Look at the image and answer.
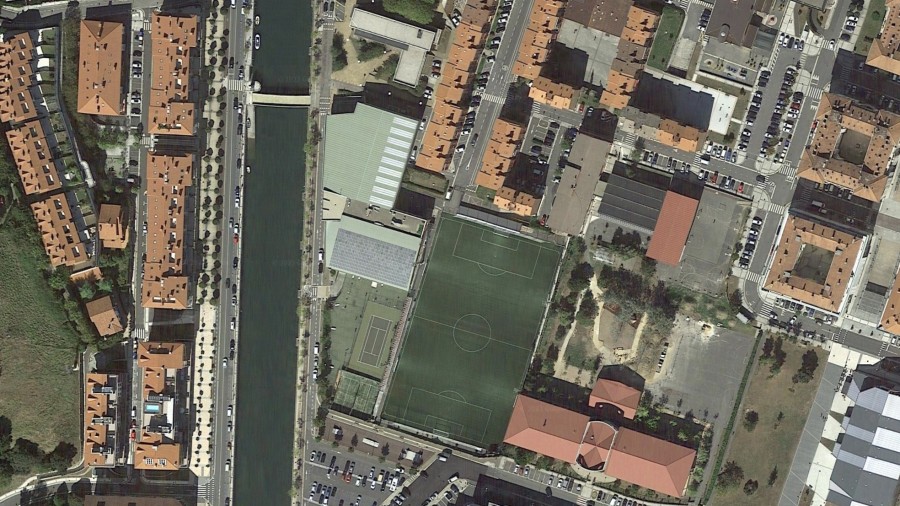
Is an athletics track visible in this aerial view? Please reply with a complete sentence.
No, there's no athletics track here.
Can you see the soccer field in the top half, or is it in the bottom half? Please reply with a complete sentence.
It is in the bottom half that the soccer field appears.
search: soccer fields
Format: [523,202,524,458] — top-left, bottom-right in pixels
[381,213,562,452]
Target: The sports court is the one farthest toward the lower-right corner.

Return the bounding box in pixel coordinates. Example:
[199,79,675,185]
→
[669,311,751,398]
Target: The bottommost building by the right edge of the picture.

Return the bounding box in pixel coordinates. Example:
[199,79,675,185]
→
[825,351,900,506]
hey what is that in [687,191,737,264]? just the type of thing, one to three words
sports court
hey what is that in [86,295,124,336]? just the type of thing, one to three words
house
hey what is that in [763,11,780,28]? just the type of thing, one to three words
fountain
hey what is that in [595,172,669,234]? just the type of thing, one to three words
building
